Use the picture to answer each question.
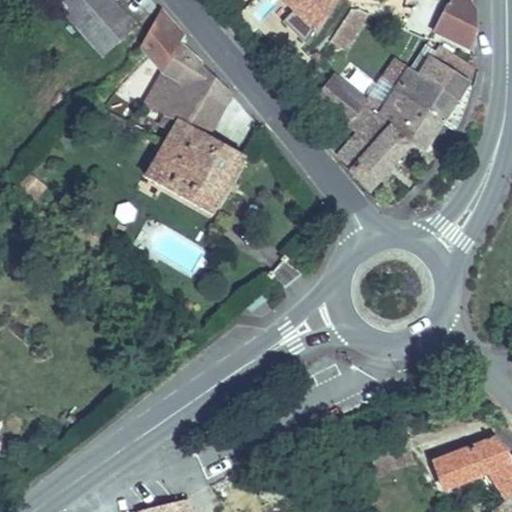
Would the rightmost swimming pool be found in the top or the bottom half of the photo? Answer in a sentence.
It is in the top half that the rightmost swimming pool appears.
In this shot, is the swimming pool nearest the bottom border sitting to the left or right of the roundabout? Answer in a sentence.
The swimming pool nearest the bottom border can be seen on the left of the roundabout.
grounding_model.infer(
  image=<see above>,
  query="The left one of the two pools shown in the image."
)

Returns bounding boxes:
[134,220,208,278]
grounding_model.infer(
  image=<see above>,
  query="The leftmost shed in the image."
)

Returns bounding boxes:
[22,174,48,198]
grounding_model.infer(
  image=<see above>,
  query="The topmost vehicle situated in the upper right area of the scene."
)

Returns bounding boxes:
[480,32,492,56]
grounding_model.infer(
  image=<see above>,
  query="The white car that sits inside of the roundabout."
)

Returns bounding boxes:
[410,318,431,334]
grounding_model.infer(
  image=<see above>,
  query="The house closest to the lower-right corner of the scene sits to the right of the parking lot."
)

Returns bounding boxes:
[432,436,512,512]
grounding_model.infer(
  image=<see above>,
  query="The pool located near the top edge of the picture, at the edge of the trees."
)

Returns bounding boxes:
[248,0,282,24]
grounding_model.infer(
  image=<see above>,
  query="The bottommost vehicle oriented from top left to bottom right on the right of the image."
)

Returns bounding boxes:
[335,347,356,366]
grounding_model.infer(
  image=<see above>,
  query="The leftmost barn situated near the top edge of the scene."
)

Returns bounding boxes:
[63,0,137,60]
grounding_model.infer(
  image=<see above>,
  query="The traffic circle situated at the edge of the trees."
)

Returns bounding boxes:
[330,228,456,354]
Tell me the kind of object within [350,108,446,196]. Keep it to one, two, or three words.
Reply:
house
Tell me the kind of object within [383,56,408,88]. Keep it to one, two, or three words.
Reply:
shed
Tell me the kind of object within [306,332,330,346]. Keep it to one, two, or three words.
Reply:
vehicle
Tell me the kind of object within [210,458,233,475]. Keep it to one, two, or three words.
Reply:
car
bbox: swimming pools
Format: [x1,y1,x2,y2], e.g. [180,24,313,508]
[134,220,208,278]
[248,0,282,24]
